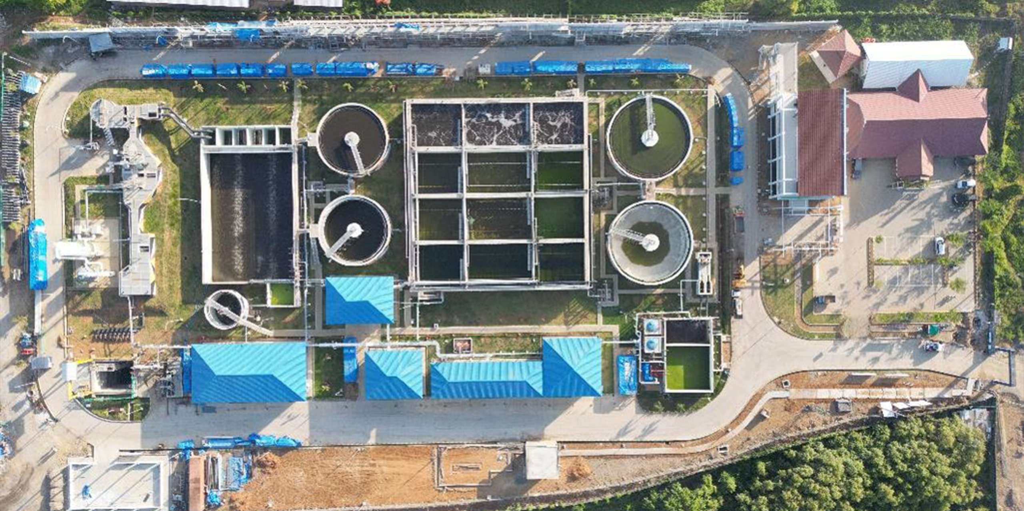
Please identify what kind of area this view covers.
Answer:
industrial area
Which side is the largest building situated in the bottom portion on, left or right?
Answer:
left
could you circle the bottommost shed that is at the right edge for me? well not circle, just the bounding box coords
[961,407,993,440]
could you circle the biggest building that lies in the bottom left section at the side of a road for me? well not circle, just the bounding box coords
[191,342,309,403]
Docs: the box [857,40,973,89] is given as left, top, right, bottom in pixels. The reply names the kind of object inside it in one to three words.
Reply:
shed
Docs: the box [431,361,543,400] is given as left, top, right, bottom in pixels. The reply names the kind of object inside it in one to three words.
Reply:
building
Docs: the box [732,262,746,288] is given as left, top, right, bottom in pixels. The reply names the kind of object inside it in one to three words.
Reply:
vehicle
